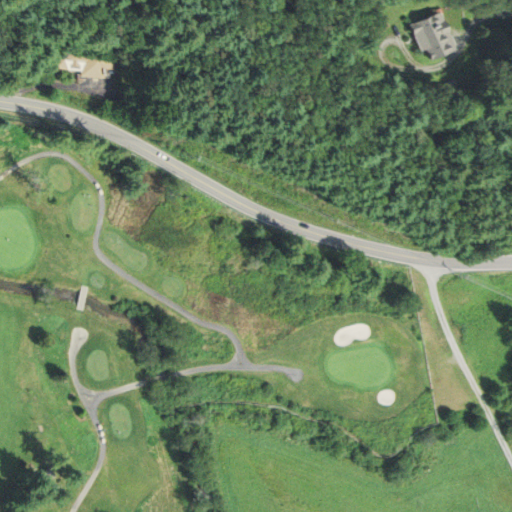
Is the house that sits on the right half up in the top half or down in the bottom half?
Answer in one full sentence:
The top half of the photo is where the house that sits on the right half is.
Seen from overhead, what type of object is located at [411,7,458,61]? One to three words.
house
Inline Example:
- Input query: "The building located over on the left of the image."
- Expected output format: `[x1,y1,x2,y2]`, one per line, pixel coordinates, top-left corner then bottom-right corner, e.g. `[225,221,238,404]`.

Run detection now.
[58,53,114,80]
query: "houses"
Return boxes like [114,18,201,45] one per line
[411,7,458,61]
[58,53,114,80]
